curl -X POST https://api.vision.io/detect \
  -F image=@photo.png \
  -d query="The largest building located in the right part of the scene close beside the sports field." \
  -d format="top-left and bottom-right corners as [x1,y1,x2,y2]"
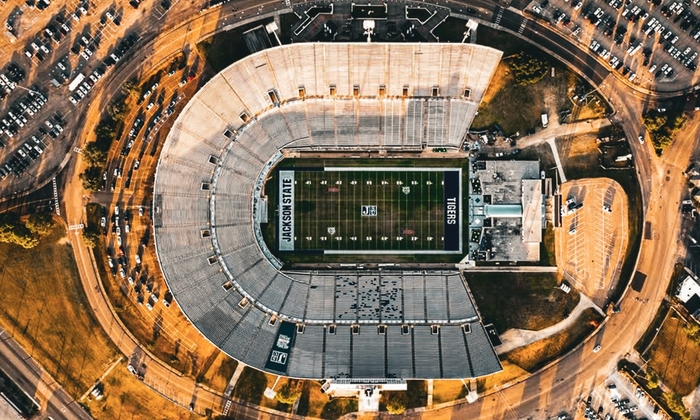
[468,159,543,262]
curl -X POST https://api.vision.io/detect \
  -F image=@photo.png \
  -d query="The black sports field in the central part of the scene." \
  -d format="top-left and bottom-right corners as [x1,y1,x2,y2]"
[261,157,469,265]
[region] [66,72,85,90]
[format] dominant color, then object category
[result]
white vehicle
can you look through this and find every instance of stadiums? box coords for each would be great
[152,40,504,411]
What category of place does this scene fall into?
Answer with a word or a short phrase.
sports ground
